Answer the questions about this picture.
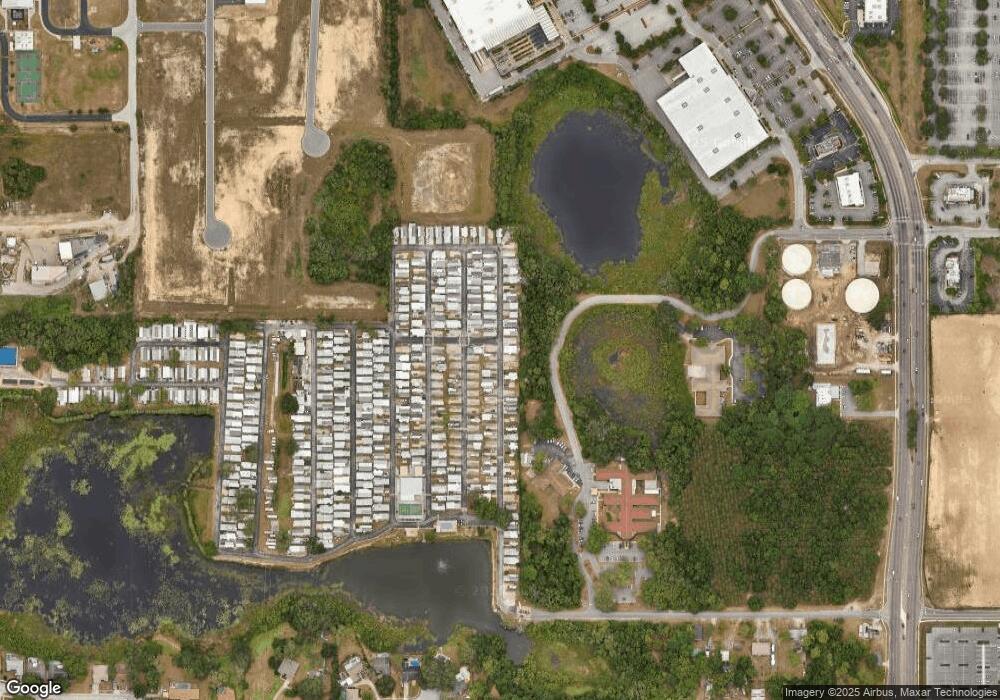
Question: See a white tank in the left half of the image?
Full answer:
No, no white tank appears in the left half of the image.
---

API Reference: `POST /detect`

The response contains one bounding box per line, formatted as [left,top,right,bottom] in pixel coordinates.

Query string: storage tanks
[845,277,880,312]
[782,278,812,309]
[781,244,812,275]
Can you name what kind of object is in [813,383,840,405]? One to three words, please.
house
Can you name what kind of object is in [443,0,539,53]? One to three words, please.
building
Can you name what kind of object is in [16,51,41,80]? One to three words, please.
sports court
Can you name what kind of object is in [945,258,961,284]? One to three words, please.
building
